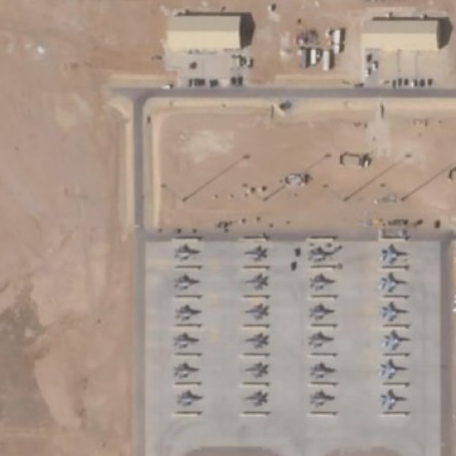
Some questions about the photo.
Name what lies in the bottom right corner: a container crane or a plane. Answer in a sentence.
What appears in the bottom right corner is a plane.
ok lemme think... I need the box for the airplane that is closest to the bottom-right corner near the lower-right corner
[376,391,403,408]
